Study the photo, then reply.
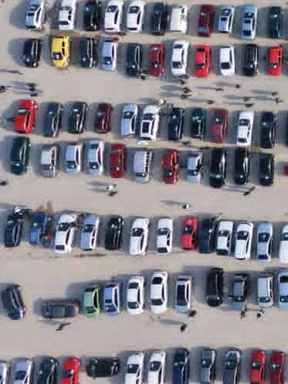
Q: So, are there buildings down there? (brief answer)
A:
No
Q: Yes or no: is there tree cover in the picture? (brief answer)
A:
No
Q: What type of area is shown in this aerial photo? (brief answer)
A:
parking lot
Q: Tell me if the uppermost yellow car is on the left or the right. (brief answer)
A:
left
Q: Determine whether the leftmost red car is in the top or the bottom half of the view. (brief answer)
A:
top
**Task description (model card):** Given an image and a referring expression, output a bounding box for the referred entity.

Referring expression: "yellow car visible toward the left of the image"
[52,36,72,69]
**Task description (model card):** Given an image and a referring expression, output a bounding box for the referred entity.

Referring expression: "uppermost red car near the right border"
[267,44,284,78]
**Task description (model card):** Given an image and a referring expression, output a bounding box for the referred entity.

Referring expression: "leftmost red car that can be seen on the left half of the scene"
[15,101,38,132]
